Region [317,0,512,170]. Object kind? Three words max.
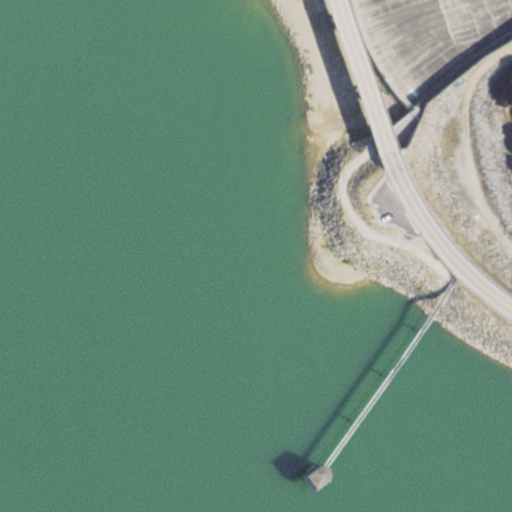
dam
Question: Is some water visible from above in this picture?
Yes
